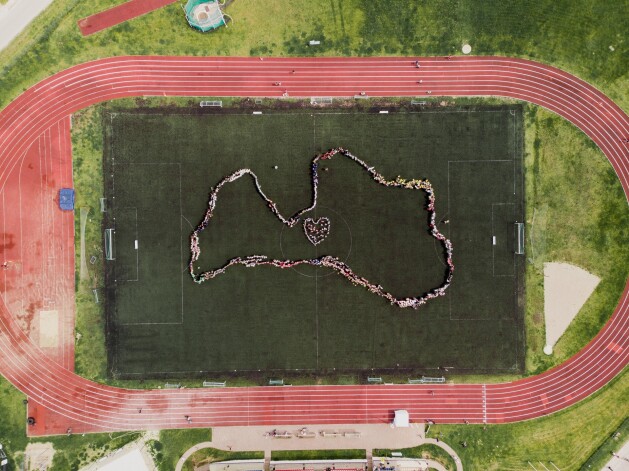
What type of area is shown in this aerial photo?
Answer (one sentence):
What you see here is a sports ground.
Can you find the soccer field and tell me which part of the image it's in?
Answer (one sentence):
The soccer field is located in the center region of the scene.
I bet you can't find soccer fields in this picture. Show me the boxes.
[106,105,526,380]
